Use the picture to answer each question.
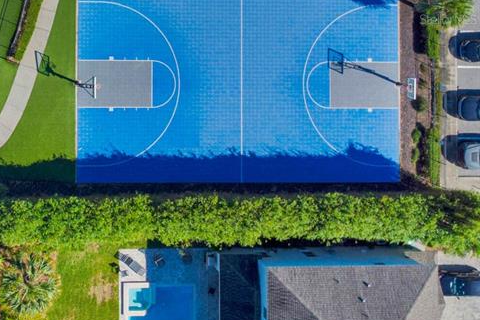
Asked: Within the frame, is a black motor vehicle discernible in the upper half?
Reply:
Yes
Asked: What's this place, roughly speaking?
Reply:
sports ground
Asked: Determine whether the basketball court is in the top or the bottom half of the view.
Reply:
top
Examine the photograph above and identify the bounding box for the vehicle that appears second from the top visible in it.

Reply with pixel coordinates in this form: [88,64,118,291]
[459,97,480,122]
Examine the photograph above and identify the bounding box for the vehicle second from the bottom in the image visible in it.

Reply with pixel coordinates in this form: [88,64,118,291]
[460,143,480,168]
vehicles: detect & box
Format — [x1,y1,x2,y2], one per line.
[460,38,480,62]
[460,143,480,168]
[441,267,480,298]
[459,97,480,122]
